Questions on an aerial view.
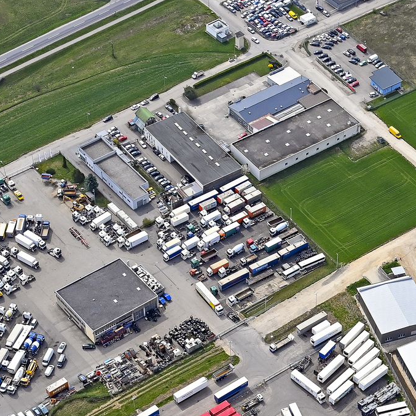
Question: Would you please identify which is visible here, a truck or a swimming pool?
truck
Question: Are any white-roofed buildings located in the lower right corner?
Yes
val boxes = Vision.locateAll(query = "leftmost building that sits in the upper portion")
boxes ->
[79,137,116,173]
